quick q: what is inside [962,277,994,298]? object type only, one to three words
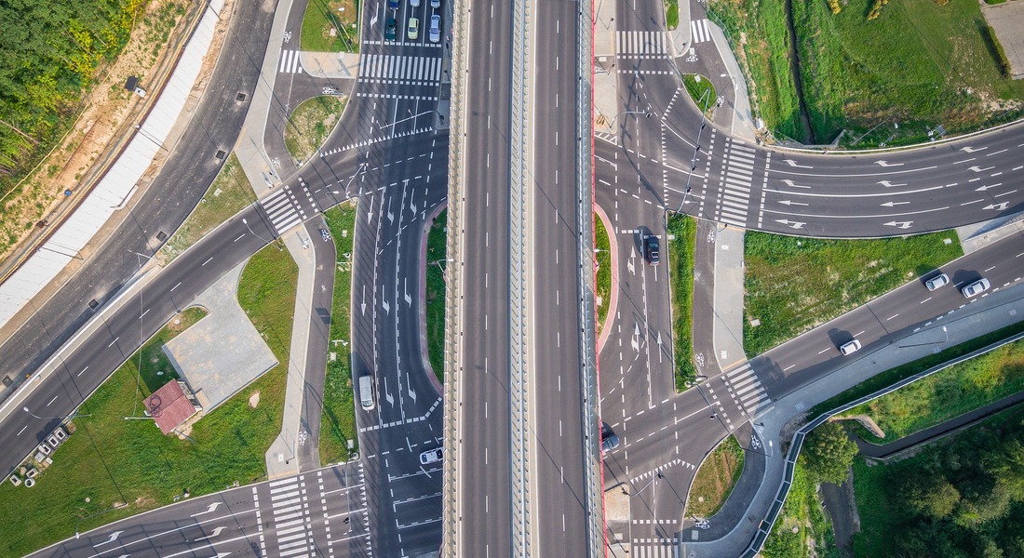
car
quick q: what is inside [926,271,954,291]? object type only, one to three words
car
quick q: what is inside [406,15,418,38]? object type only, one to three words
vehicle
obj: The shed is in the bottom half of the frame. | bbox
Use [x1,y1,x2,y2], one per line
[144,373,225,435]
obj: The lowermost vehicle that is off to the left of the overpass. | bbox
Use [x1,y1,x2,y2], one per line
[418,448,442,466]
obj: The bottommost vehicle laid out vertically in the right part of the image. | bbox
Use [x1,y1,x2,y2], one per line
[647,235,661,265]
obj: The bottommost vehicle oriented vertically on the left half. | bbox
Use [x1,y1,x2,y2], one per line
[358,376,374,412]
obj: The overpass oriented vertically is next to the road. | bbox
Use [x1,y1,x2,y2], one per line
[440,0,603,558]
